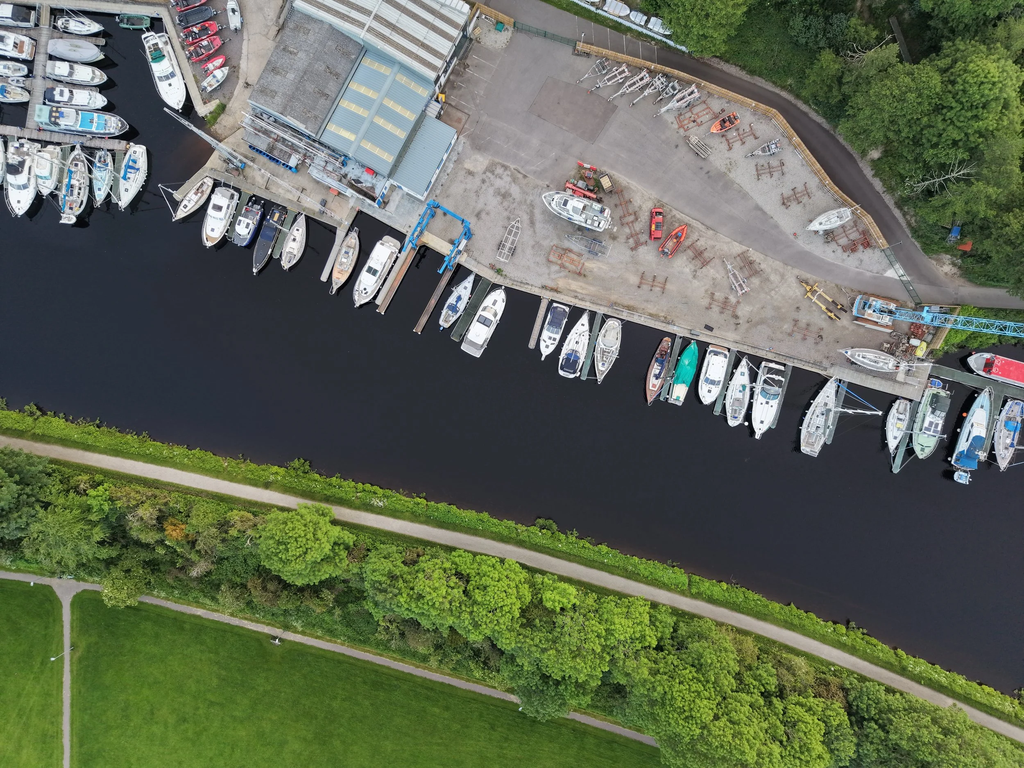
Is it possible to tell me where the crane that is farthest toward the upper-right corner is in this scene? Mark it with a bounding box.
[851,289,1024,338]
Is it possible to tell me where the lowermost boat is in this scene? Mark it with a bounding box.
[950,472,972,484]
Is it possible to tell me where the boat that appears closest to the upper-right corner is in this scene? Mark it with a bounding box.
[809,204,868,232]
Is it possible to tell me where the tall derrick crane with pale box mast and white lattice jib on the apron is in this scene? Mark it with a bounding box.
[168,106,356,234]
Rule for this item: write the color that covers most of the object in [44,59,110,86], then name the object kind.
white boat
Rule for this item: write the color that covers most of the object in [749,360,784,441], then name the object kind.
white boat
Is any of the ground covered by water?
Yes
